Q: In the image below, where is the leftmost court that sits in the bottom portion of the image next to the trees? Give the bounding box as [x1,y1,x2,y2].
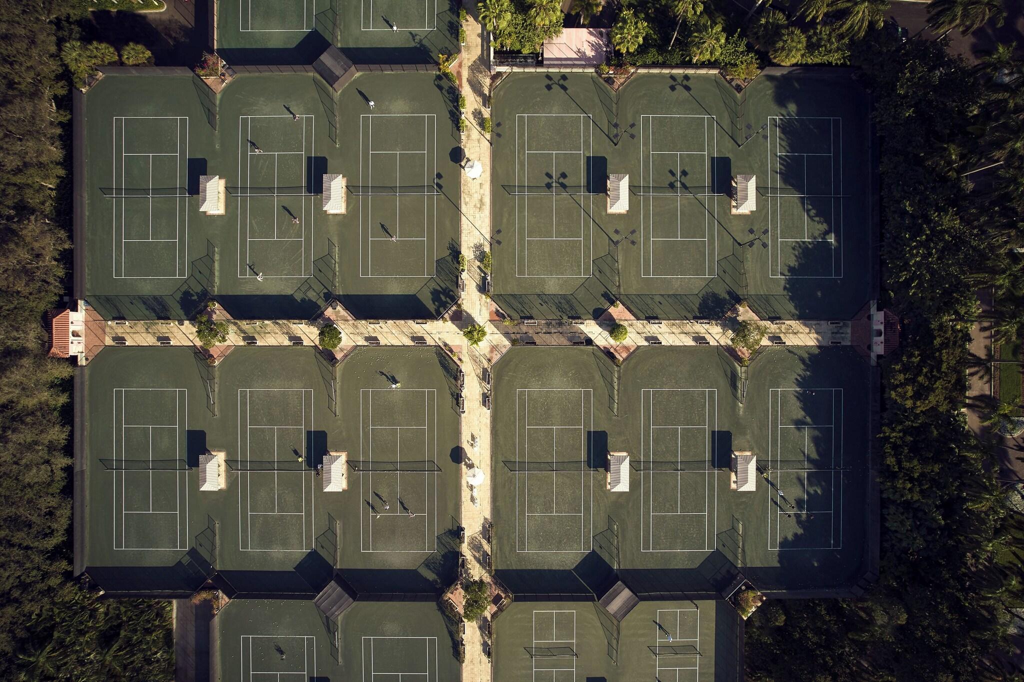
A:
[86,346,217,593]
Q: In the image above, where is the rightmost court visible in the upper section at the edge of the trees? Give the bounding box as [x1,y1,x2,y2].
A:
[741,74,869,320]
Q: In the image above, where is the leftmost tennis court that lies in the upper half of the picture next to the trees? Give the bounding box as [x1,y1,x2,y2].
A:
[86,74,217,320]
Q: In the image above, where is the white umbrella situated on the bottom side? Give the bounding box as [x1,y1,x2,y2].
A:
[467,466,485,484]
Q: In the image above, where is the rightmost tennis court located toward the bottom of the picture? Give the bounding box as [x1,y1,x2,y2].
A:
[741,346,869,593]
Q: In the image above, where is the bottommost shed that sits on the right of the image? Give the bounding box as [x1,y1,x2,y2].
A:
[600,578,642,620]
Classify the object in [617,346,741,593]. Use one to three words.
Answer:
tennis court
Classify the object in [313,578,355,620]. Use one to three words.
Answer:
shed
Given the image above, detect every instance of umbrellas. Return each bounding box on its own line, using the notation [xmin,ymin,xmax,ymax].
[467,466,485,484]
[465,162,483,180]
